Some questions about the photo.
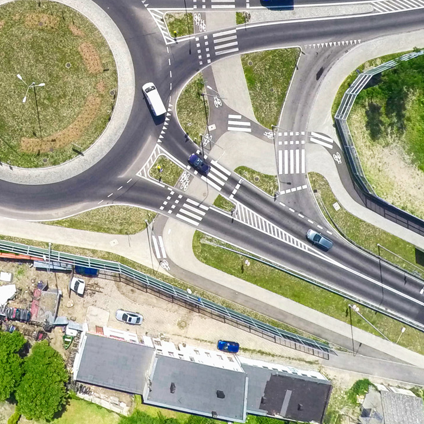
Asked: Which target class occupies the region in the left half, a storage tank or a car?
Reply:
car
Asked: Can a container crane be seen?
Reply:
No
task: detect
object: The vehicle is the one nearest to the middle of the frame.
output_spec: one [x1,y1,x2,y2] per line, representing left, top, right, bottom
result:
[185,150,214,177]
